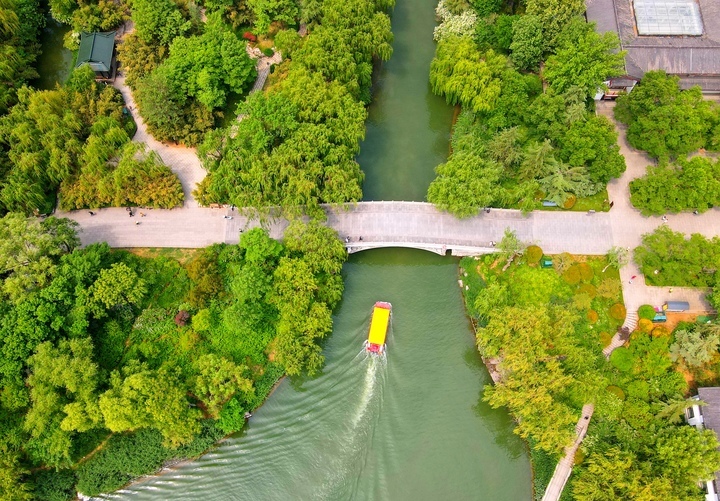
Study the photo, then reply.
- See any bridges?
Yes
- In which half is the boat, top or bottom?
bottom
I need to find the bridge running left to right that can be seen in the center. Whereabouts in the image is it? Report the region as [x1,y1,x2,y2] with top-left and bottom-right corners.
[221,199,619,254]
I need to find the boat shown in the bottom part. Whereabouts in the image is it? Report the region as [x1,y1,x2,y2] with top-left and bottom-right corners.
[367,301,390,353]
